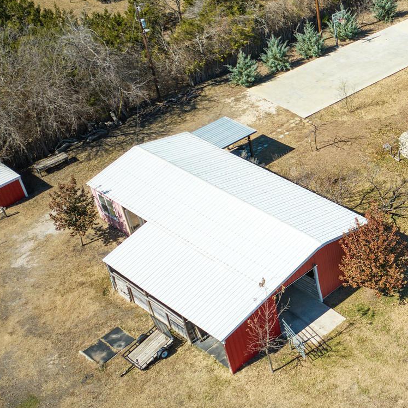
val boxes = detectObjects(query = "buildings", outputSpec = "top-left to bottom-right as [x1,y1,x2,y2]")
[86,130,371,373]
[0,158,27,206]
